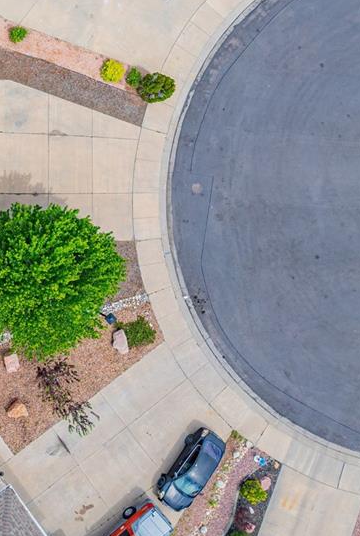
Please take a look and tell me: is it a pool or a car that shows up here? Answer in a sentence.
Of the two, only a car appears.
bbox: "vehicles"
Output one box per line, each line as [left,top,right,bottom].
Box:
[159,433,227,512]
[106,500,174,536]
